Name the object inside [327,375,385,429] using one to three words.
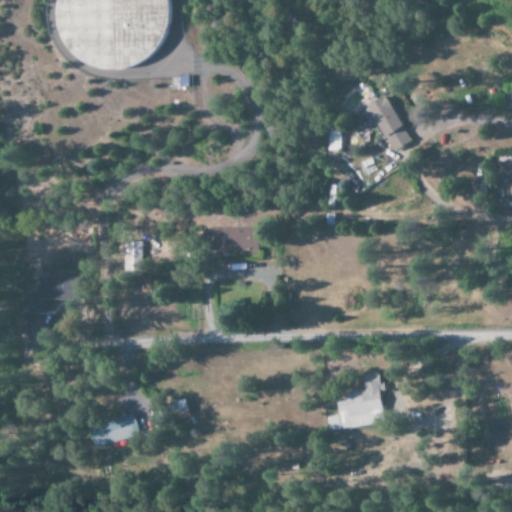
house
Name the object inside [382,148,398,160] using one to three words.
vehicle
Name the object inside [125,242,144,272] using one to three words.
house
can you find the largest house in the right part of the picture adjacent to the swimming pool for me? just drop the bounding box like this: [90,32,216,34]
[368,95,412,154]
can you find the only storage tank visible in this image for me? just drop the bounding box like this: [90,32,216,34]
[56,0,172,68]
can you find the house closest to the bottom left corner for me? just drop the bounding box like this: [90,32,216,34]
[90,414,140,446]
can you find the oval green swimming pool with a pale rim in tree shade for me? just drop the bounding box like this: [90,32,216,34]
[346,90,364,110]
